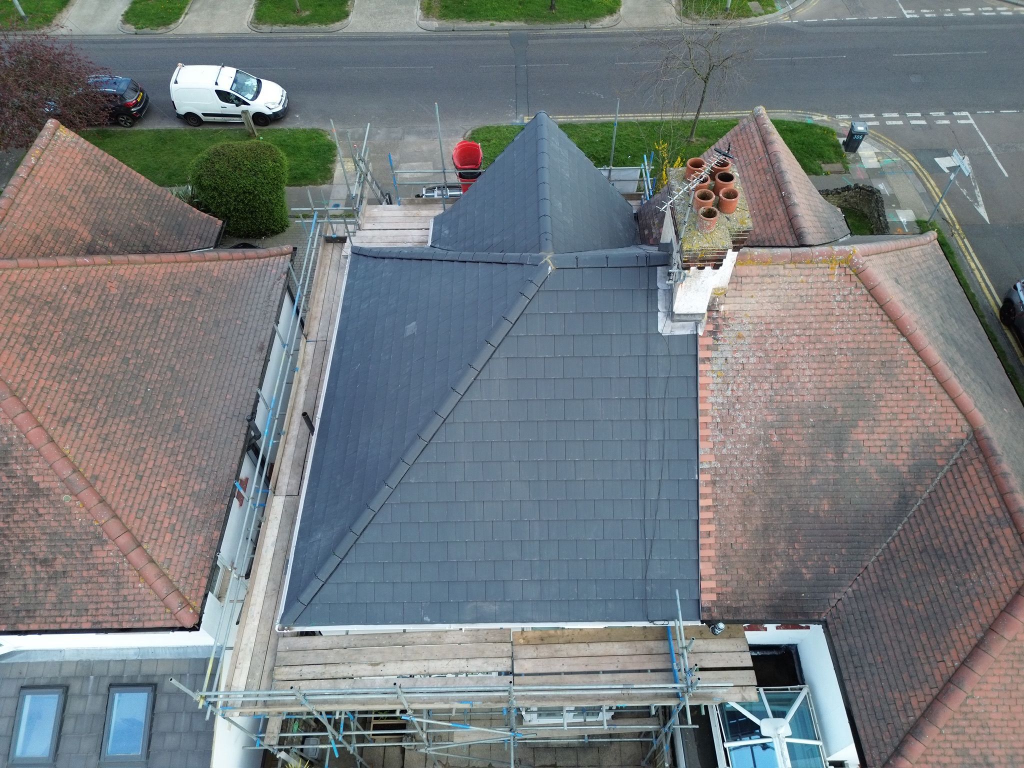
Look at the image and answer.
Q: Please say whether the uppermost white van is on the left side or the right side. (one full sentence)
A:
The uppermost white van appears in the left half of the scene.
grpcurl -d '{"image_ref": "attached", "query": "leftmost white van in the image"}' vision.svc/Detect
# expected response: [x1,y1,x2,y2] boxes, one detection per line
[165,60,286,126]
